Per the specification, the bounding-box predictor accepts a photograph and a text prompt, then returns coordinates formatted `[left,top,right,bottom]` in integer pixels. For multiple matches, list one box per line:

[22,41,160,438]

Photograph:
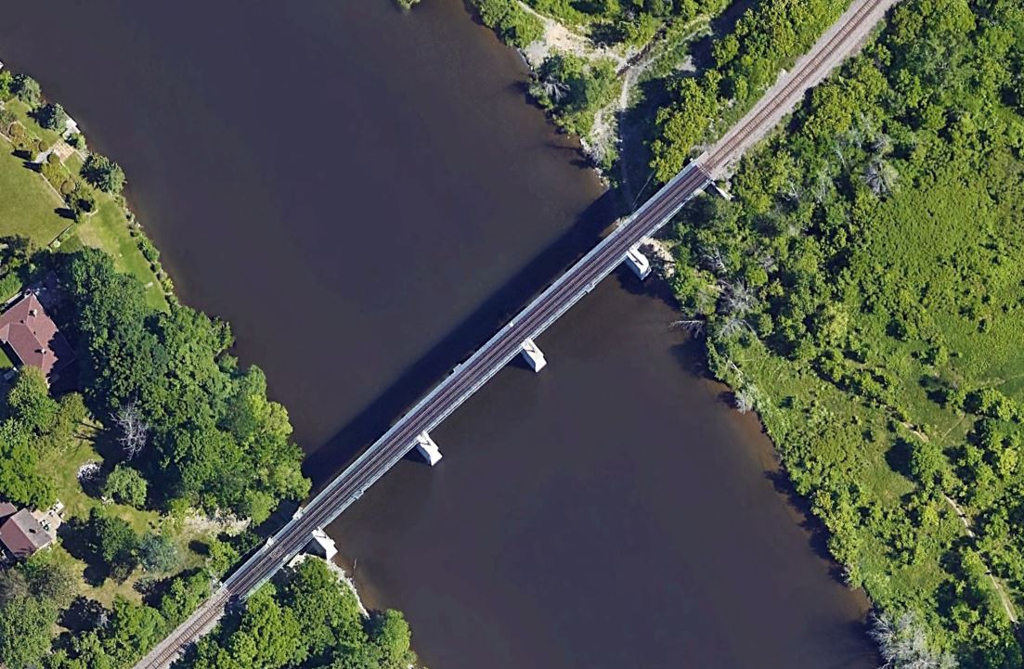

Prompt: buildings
[0,508,51,565]
[0,294,77,382]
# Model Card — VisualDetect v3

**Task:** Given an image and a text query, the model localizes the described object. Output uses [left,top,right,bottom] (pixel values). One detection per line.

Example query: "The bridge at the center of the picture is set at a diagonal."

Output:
[210,153,729,613]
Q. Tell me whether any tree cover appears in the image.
Yes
